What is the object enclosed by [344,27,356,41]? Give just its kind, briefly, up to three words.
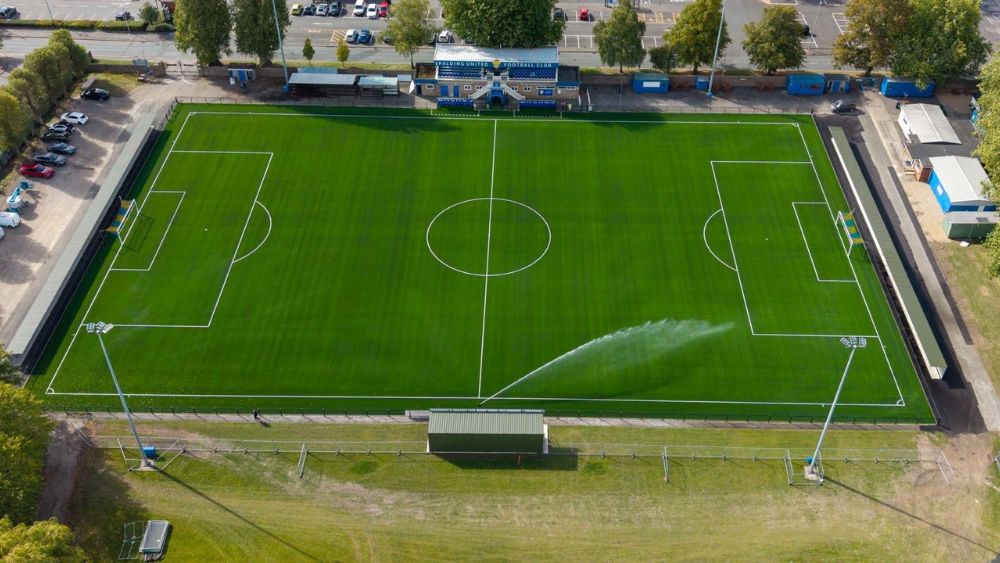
vehicle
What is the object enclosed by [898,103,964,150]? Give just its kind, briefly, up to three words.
building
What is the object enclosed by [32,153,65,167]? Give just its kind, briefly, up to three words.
vehicle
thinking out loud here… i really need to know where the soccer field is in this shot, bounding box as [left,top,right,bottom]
[20,104,938,423]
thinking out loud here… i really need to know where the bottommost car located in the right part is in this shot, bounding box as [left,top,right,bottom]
[830,100,857,113]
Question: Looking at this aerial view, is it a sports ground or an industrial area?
sports ground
